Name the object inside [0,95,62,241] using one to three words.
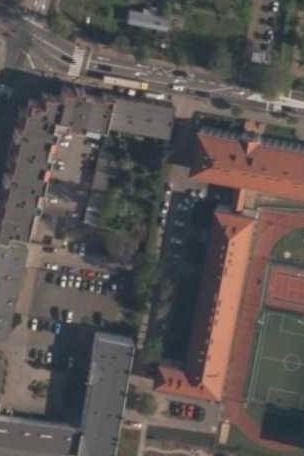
building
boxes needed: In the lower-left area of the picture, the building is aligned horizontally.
[0,414,78,454]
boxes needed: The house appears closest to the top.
[128,7,170,31]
